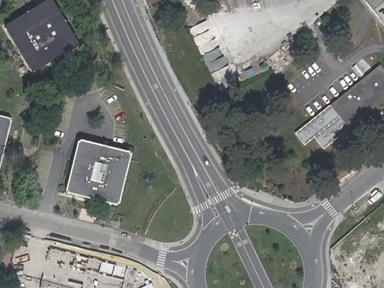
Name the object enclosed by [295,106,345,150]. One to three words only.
building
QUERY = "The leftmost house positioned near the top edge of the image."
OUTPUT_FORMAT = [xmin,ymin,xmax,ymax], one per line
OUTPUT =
[5,0,78,70]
